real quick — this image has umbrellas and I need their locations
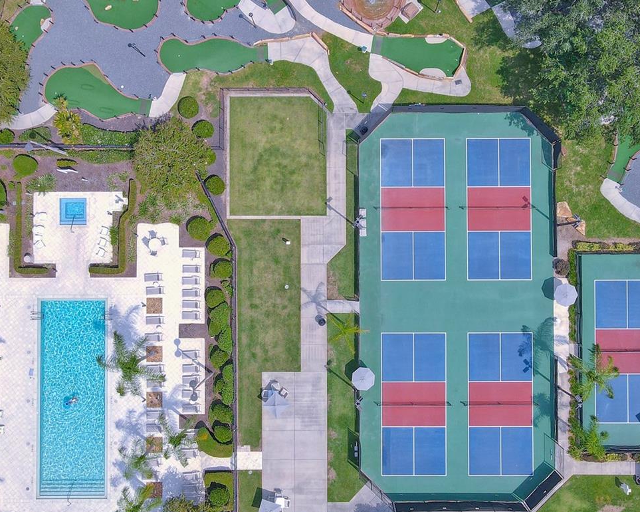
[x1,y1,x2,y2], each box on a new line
[553,282,577,306]
[352,367,375,389]
[262,390,290,419]
[257,496,284,512]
